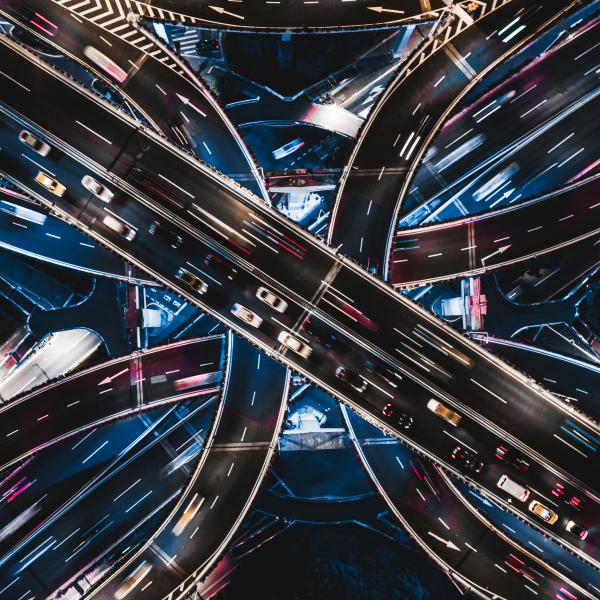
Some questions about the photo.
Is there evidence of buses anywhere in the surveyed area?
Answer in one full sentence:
Yes, the frame does contain a bus.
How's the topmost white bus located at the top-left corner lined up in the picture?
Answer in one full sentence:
What the image shows is the topmost white bus located at the top-left corner lying diagonally.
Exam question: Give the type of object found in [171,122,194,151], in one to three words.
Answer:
car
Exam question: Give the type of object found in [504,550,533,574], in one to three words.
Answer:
car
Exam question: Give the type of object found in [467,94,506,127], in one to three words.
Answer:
bus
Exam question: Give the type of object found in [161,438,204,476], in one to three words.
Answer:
bus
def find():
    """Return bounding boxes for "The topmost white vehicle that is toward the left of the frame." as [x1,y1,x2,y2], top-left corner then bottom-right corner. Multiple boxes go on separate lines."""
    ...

[83,45,132,88]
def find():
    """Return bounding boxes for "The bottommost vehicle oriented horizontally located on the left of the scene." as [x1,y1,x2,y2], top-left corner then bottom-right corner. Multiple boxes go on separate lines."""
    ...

[175,368,224,393]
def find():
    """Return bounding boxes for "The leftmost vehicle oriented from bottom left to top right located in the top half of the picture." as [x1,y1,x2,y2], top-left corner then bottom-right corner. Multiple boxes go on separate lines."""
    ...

[270,137,305,165]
